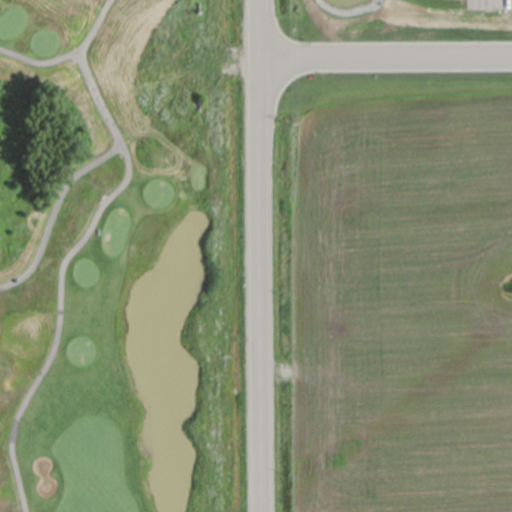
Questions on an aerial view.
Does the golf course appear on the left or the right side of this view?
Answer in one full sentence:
The golf course sits on the left side.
